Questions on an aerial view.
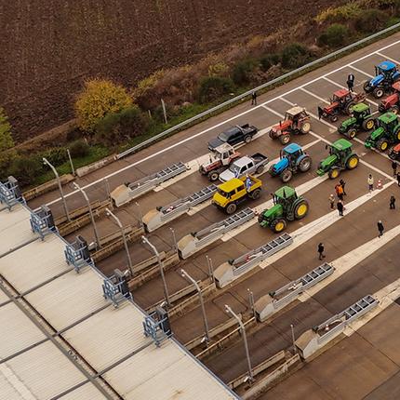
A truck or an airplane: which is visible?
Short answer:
truck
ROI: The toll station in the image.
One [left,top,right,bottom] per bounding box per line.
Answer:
[0,179,243,400]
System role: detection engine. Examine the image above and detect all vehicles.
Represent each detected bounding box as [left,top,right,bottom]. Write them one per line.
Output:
[270,107,312,145]
[313,136,363,181]
[206,173,264,214]
[312,87,371,128]
[379,80,400,116]
[265,141,315,186]
[362,113,400,153]
[195,140,244,181]
[206,121,259,153]
[364,60,400,100]
[337,103,378,141]
[217,151,273,181]
[256,183,312,235]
